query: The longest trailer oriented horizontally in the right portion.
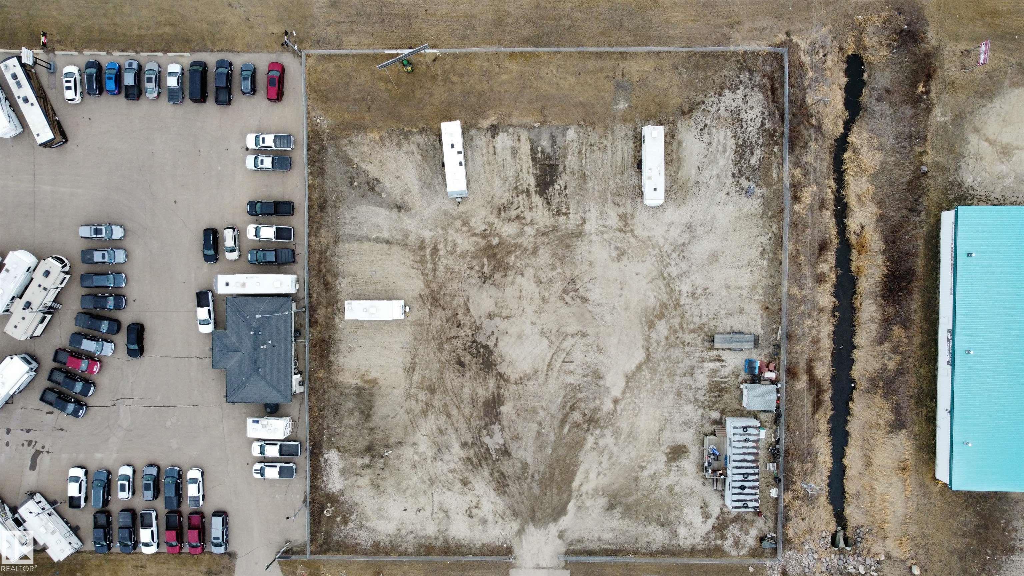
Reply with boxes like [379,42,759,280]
[702,332,758,351]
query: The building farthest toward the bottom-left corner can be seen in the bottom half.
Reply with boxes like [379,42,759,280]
[212,296,293,404]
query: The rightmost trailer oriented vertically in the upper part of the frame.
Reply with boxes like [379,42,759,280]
[634,125,664,210]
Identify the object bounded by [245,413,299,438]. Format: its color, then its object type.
white camper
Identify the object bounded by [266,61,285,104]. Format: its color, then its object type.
red car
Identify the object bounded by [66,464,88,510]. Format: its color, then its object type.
white truck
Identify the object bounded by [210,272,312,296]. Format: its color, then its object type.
white trailer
